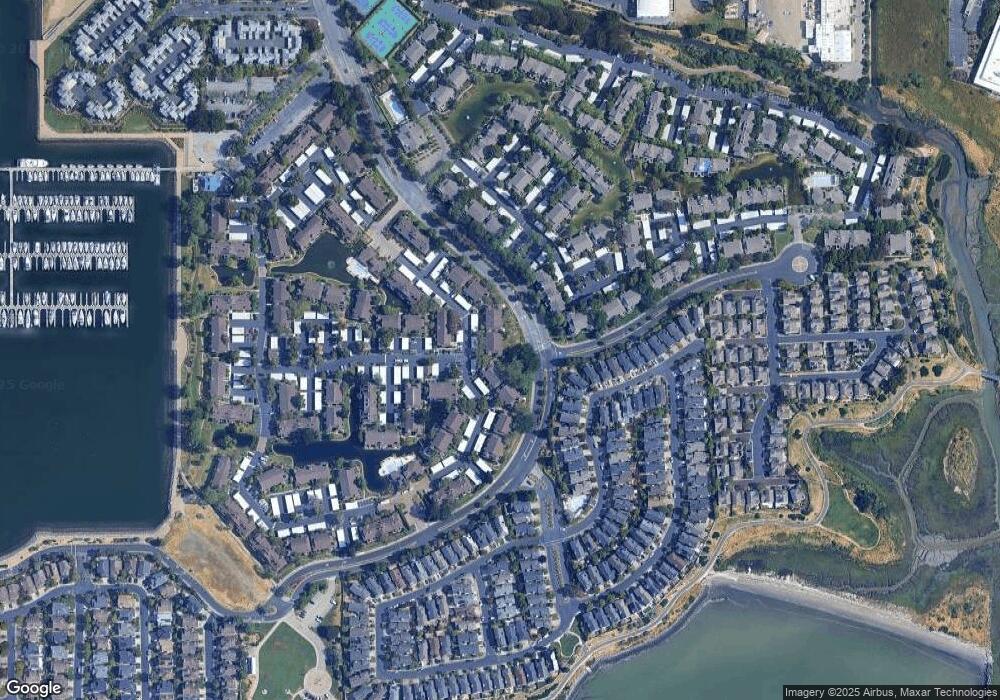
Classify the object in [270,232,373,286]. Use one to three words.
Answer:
pond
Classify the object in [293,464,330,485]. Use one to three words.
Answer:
building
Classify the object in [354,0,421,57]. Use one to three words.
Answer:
sports court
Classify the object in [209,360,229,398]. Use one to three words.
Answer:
building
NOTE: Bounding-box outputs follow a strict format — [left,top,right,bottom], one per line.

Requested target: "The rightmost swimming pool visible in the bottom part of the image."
[563,495,588,519]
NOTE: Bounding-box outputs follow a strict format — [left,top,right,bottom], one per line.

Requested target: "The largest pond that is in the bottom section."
[271,418,402,495]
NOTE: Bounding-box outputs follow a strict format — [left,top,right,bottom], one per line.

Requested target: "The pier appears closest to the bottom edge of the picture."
[0,294,128,326]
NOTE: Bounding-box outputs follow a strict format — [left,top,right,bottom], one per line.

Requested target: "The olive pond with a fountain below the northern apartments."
[451,81,541,143]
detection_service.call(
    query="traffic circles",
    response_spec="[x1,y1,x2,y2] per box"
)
[779,244,819,284]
